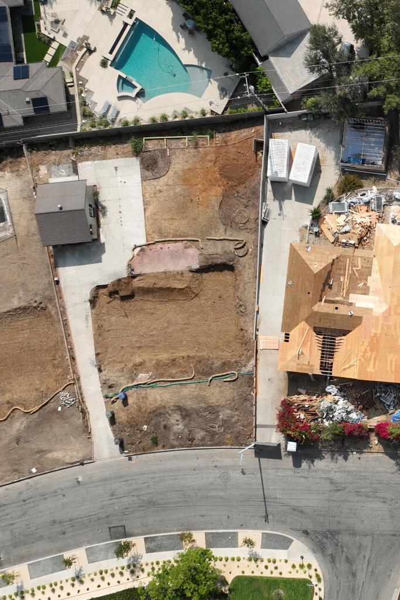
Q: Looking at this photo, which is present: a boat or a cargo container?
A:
cargo container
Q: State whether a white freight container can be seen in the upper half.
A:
Yes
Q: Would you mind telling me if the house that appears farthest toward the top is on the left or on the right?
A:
right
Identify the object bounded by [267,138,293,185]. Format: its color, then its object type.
white shipping container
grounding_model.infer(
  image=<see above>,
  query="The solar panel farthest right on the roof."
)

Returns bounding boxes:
[31,97,49,113]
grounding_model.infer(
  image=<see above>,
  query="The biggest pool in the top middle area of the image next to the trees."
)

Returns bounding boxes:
[108,16,213,105]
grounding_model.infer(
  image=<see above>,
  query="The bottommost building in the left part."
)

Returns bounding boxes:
[34,180,102,248]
